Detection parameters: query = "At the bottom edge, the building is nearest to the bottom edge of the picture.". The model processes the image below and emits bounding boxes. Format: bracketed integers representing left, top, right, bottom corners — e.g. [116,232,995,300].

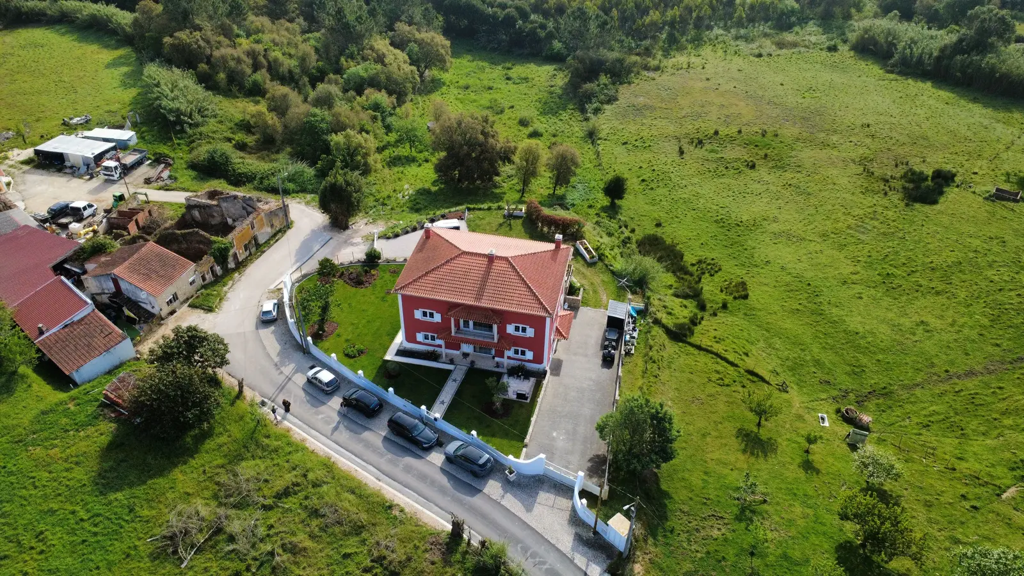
[607,511,630,550]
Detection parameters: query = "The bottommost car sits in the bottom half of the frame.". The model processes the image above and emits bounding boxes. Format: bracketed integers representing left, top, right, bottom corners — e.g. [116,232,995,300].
[440,441,498,482]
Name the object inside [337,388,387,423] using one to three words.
car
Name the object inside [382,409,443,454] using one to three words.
car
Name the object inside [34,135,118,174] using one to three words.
shed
